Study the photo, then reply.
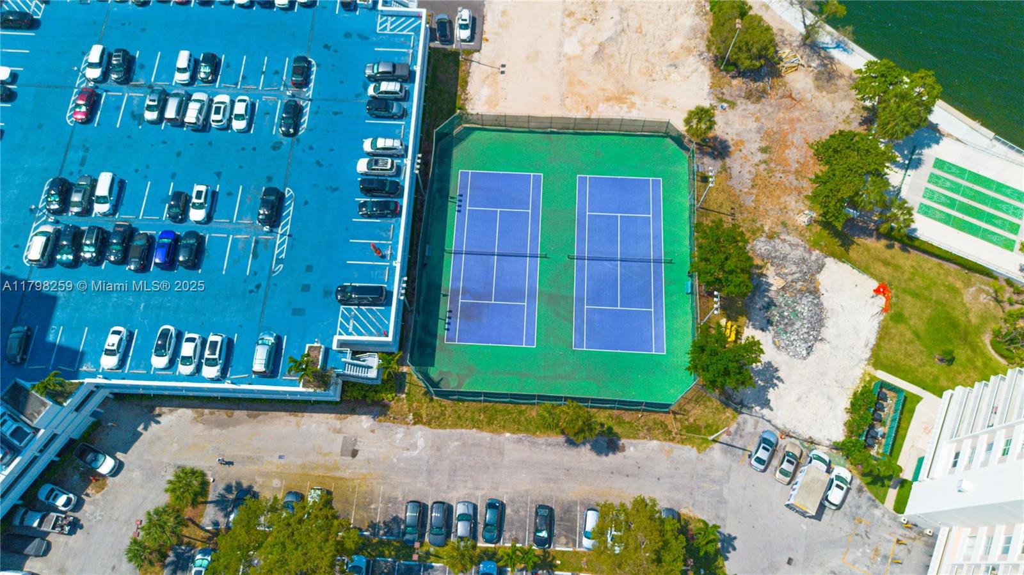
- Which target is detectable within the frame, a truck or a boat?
truck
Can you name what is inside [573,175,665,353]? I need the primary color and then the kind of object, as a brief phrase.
blue tennis court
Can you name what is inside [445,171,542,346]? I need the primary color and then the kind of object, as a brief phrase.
blue tennis court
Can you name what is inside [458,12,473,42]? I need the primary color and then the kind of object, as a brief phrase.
white car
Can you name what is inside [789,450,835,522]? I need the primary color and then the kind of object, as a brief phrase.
white truck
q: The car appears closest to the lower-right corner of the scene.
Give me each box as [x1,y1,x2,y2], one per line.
[823,465,853,514]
